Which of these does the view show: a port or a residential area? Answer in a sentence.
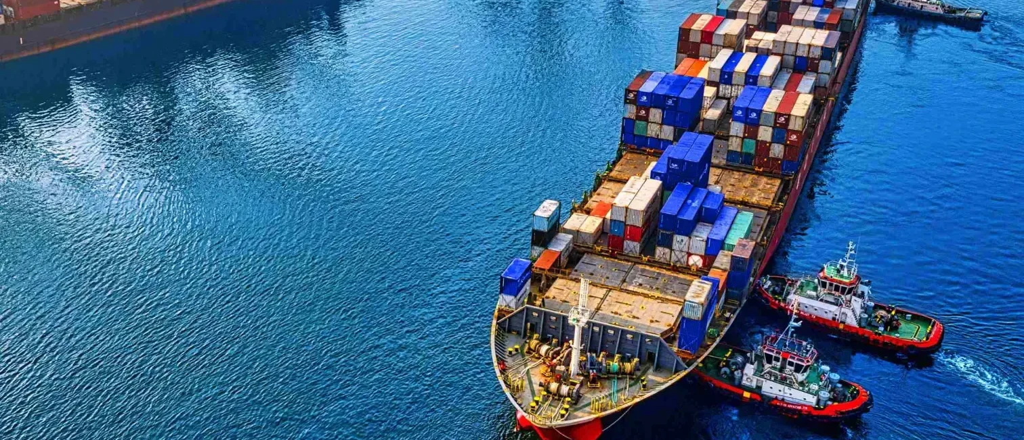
This looks like a port.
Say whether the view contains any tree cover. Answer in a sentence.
No, tree cover can't be seen anywhere here.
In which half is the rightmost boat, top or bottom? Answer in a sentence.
The rightmost boat is in the top half of the image.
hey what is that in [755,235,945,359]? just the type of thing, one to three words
boat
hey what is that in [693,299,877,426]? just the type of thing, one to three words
boat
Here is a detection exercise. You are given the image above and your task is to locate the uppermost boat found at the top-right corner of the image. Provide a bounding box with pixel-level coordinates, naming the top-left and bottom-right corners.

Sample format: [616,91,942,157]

[872,0,989,30]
